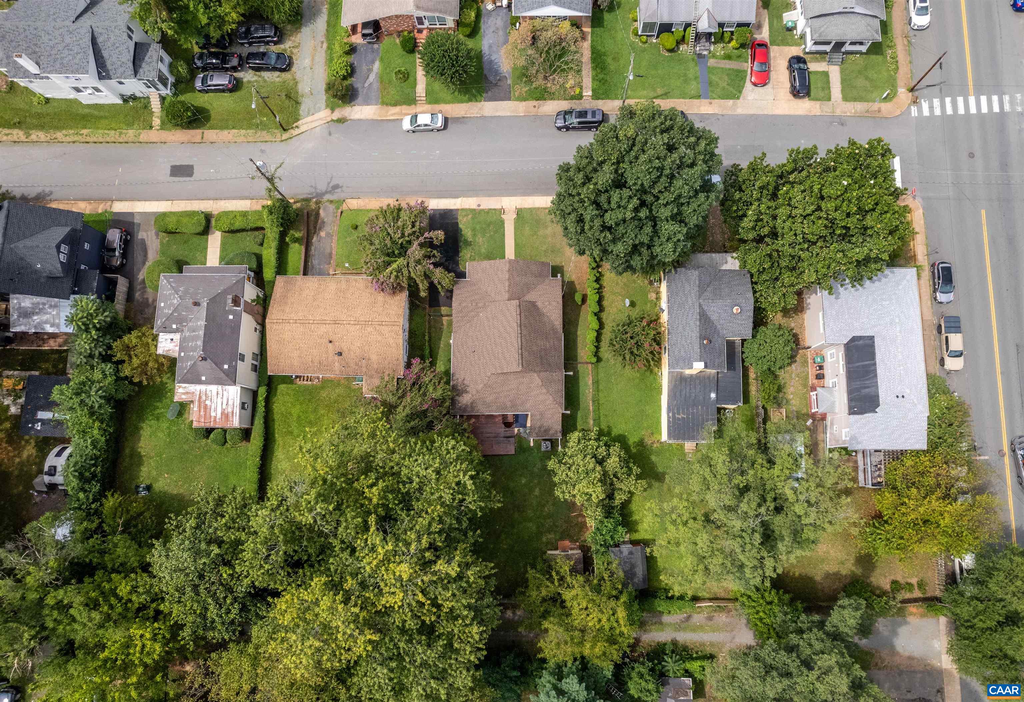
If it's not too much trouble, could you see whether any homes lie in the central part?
Yes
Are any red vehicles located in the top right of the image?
Yes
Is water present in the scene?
No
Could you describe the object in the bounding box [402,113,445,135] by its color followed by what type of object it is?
white car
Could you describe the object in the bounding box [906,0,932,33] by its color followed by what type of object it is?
white car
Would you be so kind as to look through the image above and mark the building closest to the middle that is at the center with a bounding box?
[449,257,573,454]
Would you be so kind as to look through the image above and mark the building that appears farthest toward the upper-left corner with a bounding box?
[0,0,175,113]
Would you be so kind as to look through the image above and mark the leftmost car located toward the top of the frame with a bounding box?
[101,228,129,271]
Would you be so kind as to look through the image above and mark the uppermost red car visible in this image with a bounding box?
[748,44,770,89]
